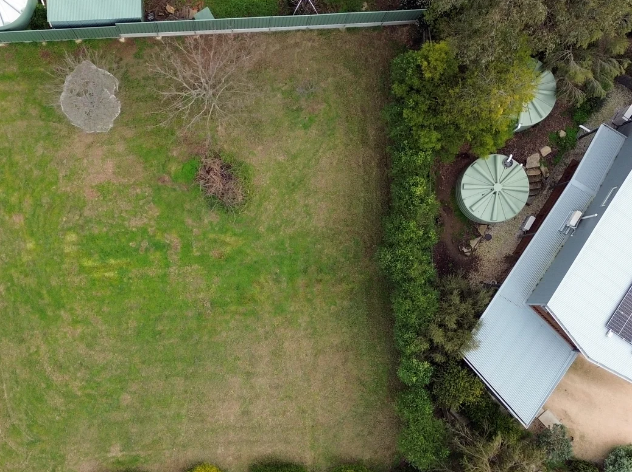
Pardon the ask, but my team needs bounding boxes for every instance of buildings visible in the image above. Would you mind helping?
[46,0,143,29]
[452,112,632,428]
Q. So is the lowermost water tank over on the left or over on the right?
right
